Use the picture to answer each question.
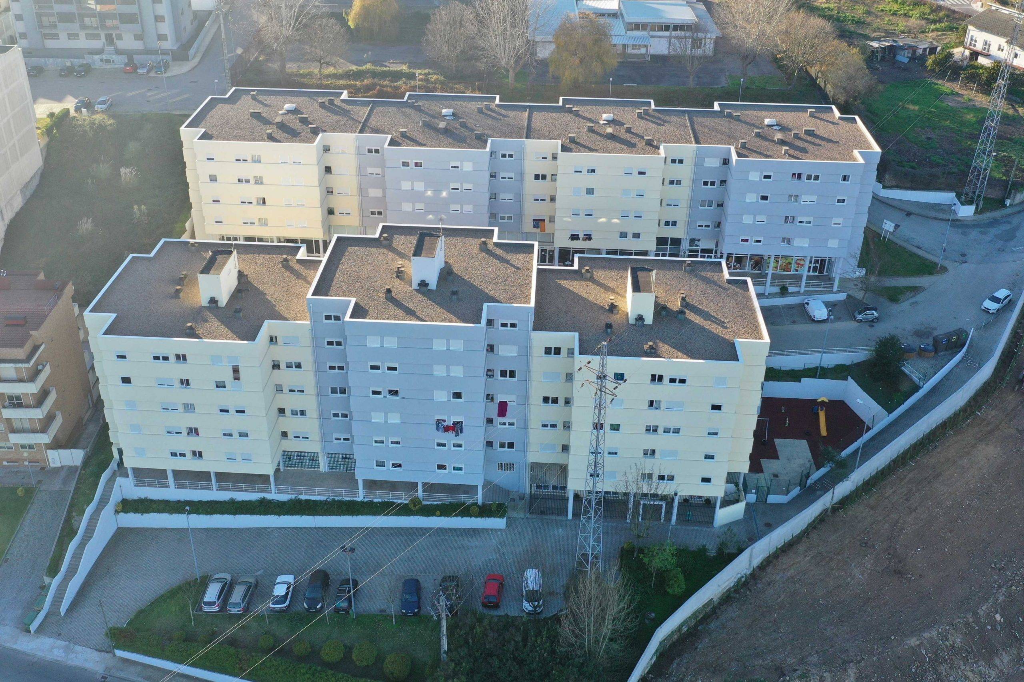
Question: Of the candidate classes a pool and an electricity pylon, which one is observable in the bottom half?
electricity pylon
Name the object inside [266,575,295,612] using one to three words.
car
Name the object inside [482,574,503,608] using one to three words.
car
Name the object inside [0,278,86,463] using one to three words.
building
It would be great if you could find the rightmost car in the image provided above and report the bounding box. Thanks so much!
[980,291,1015,310]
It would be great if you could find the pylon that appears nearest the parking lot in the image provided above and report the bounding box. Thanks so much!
[574,340,626,574]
